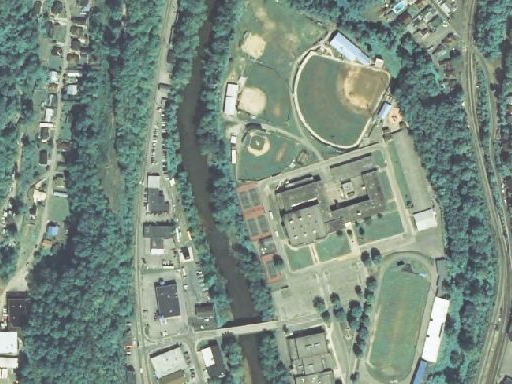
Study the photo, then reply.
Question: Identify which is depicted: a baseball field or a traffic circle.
baseball field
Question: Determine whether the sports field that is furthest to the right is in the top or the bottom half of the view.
bottom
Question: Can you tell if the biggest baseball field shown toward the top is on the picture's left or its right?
right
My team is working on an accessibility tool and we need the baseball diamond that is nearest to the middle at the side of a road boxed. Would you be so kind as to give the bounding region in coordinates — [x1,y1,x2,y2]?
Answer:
[238,121,303,181]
